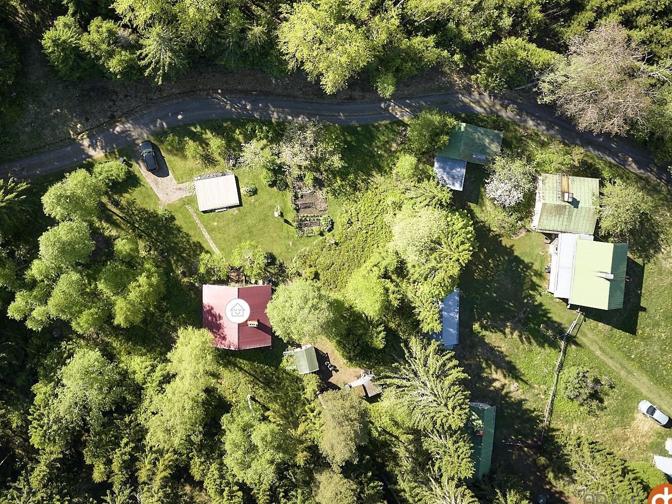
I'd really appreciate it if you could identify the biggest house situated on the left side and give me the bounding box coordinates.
[203,284,271,350]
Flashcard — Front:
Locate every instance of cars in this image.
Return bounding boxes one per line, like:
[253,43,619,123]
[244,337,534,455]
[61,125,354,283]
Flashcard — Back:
[640,401,671,427]
[139,140,157,173]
